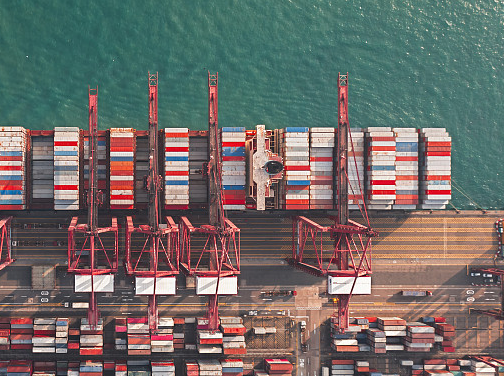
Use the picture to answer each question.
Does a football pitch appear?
No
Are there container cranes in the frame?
Yes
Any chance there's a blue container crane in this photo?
No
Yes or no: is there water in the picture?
Yes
